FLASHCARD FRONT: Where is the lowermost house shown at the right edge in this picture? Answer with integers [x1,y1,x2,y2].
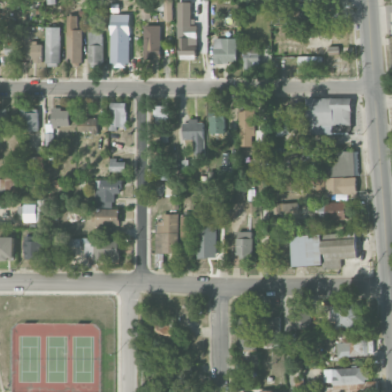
[324,368,377,392]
